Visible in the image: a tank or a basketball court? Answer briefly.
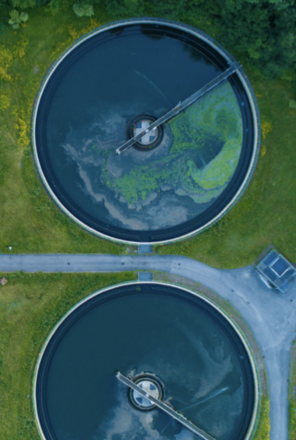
tank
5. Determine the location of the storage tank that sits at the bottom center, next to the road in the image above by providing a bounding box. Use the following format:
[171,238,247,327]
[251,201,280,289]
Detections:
[32,278,260,440]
